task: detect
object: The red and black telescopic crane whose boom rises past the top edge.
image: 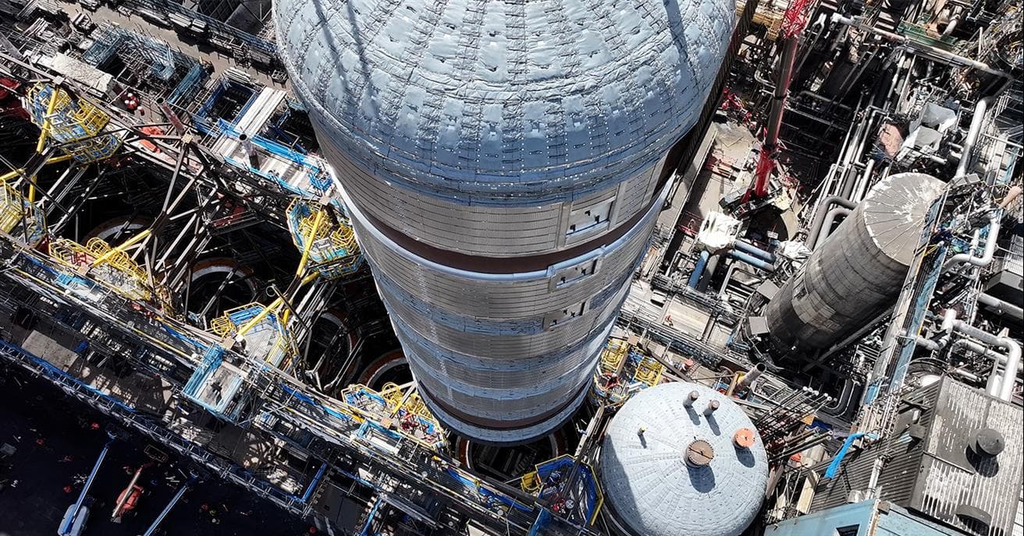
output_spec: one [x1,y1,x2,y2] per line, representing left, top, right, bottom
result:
[689,0,815,234]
